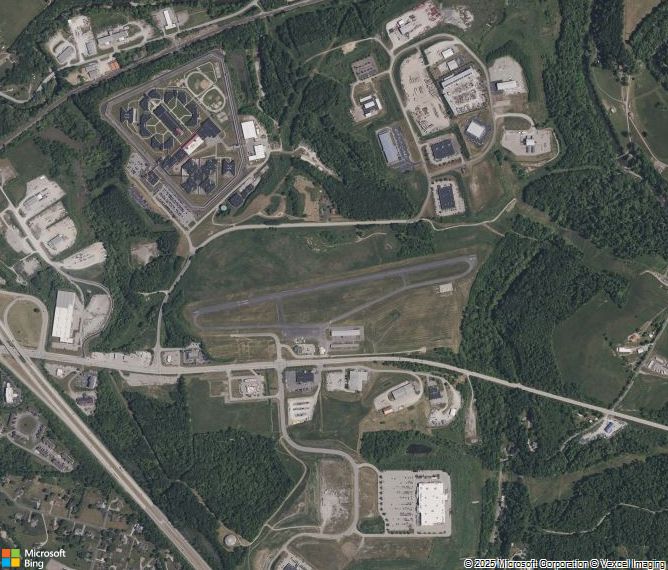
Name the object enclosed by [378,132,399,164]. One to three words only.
building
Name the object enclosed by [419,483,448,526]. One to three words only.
building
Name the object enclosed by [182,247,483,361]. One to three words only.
airport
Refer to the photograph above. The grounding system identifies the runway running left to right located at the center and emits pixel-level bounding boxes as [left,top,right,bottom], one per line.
[195,254,477,315]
